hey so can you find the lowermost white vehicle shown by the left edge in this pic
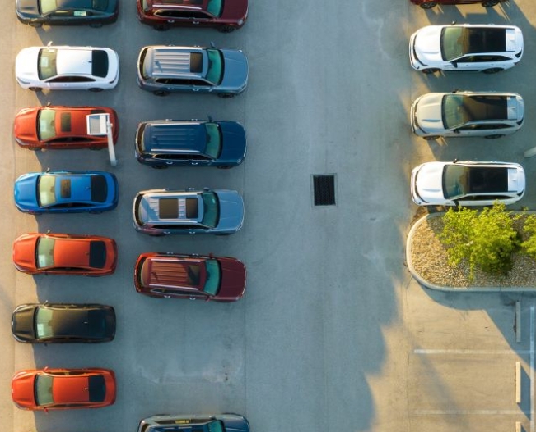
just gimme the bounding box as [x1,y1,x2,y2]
[15,42,120,94]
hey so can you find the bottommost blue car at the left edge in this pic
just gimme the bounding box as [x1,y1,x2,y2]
[13,167,118,215]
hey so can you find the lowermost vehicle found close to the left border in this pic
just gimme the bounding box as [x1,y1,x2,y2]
[11,366,117,413]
